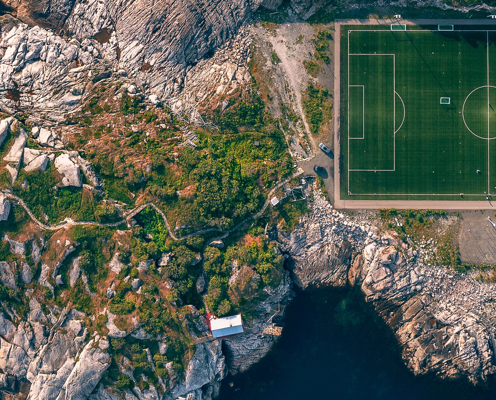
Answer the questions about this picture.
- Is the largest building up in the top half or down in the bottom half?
bottom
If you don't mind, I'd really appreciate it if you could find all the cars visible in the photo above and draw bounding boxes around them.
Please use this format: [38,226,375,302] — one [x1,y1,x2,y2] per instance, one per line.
[319,143,331,154]
[313,165,325,172]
